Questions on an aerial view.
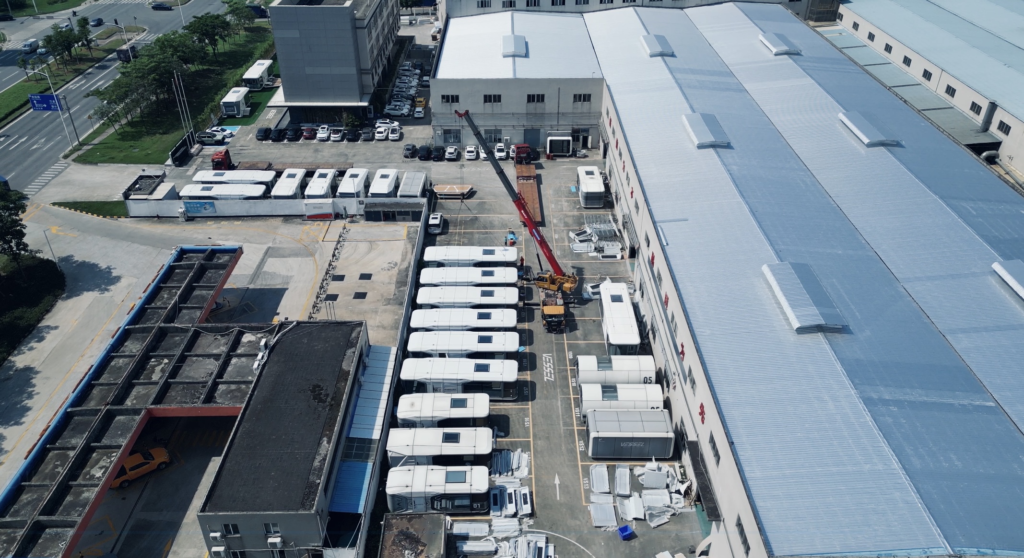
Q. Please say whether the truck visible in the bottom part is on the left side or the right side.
left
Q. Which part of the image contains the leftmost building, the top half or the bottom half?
top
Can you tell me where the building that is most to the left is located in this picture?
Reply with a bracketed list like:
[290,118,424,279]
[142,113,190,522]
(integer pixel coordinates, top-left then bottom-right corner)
[122,169,191,197]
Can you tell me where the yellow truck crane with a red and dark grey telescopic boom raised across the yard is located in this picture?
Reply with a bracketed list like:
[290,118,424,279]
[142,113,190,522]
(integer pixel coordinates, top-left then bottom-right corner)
[446,107,584,331]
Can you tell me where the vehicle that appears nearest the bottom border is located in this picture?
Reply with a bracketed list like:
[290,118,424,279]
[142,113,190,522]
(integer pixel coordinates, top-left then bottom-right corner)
[116,451,176,493]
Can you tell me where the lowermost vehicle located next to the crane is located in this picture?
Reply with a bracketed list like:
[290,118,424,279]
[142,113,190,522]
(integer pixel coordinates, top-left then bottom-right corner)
[430,211,447,233]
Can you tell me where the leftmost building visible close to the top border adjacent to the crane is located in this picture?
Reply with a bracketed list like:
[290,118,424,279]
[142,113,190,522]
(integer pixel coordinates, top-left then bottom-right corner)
[266,0,398,121]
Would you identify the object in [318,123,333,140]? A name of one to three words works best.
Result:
car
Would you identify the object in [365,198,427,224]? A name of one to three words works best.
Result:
shed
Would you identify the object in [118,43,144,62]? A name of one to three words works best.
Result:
vehicle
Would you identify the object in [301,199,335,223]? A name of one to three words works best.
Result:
building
